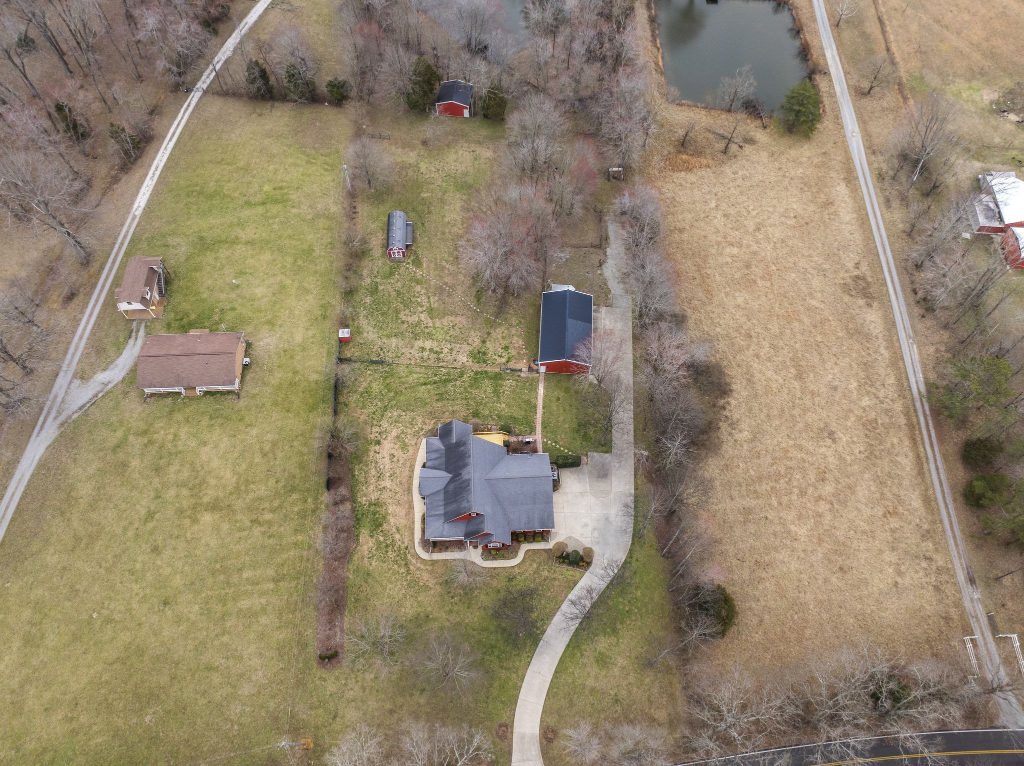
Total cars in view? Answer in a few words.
0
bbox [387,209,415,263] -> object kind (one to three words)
shed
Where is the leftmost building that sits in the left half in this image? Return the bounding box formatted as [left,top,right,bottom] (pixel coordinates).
[114,254,172,320]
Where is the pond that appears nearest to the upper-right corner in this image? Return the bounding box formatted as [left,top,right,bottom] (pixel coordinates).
[651,0,813,124]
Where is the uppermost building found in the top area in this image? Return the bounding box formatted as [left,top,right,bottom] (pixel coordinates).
[432,76,473,117]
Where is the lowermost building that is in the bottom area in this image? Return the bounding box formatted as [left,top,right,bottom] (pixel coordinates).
[417,419,555,553]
